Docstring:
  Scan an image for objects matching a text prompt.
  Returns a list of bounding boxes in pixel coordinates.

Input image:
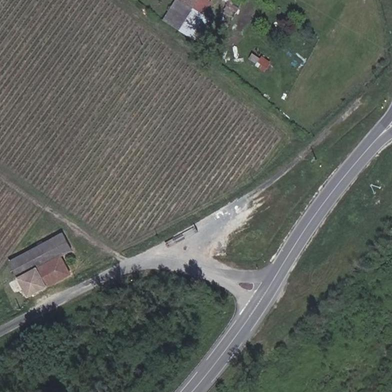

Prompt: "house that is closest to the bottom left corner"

[10,268,47,298]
